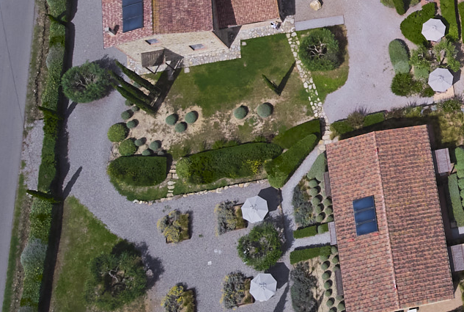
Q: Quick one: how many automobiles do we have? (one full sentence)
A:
Not a single automobile can be seen.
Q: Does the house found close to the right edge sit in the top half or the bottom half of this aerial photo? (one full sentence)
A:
The house found close to the right edge is in the bottom half of the image.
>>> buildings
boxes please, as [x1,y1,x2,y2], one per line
[325,125,455,312]
[101,0,282,57]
